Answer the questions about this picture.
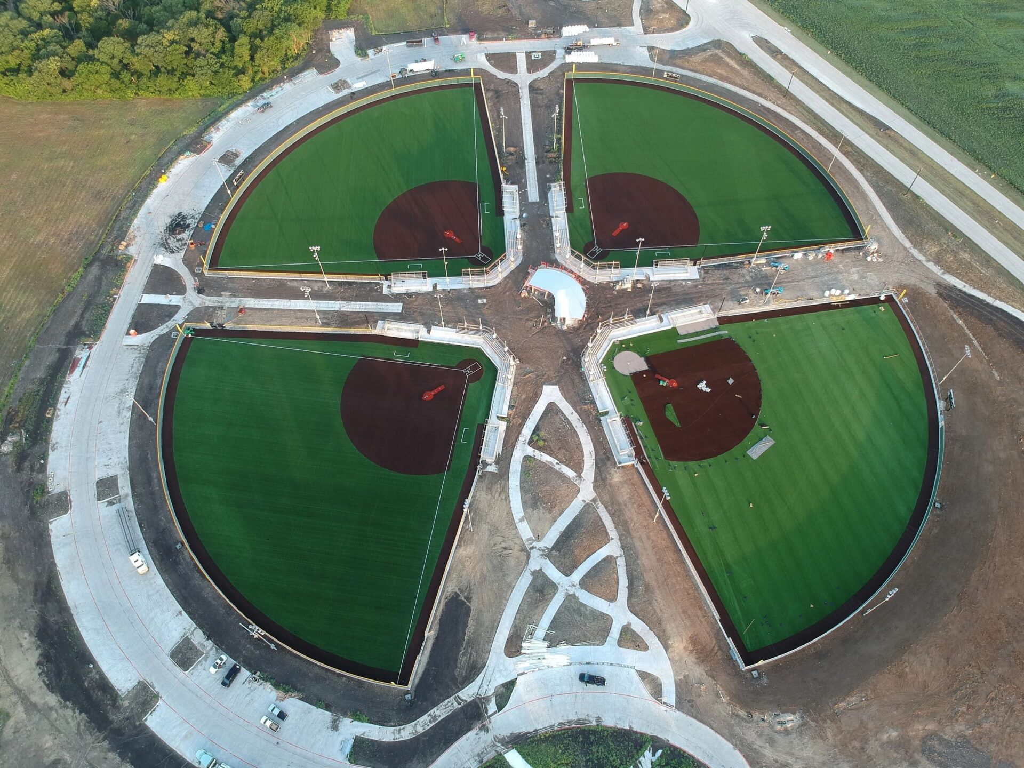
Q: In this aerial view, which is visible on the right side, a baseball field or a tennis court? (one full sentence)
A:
It is a baseball field that can be seen on the right side.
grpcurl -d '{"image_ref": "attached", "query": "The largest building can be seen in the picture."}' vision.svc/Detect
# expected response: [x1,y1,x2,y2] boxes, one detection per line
[522,265,591,327]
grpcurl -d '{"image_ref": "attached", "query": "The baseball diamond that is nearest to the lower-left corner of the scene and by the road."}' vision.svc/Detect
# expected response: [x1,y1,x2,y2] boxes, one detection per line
[163,328,497,681]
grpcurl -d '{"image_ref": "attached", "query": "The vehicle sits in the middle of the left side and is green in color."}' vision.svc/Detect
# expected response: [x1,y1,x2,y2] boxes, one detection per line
[182,325,200,338]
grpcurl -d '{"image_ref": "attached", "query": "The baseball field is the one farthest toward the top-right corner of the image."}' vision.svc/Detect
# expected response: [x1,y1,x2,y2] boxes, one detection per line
[562,78,866,267]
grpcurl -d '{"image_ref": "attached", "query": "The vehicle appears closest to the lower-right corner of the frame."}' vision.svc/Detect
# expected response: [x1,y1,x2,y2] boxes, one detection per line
[578,673,608,687]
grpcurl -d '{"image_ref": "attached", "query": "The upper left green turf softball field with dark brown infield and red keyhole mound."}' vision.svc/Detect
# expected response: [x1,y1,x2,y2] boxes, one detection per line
[207,82,506,282]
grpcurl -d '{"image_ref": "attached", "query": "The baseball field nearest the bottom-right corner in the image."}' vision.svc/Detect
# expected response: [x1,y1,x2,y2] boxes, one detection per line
[600,295,938,661]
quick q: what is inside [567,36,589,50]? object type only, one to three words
vehicle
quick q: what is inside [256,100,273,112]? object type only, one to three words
vehicle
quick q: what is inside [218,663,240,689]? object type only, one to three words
car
